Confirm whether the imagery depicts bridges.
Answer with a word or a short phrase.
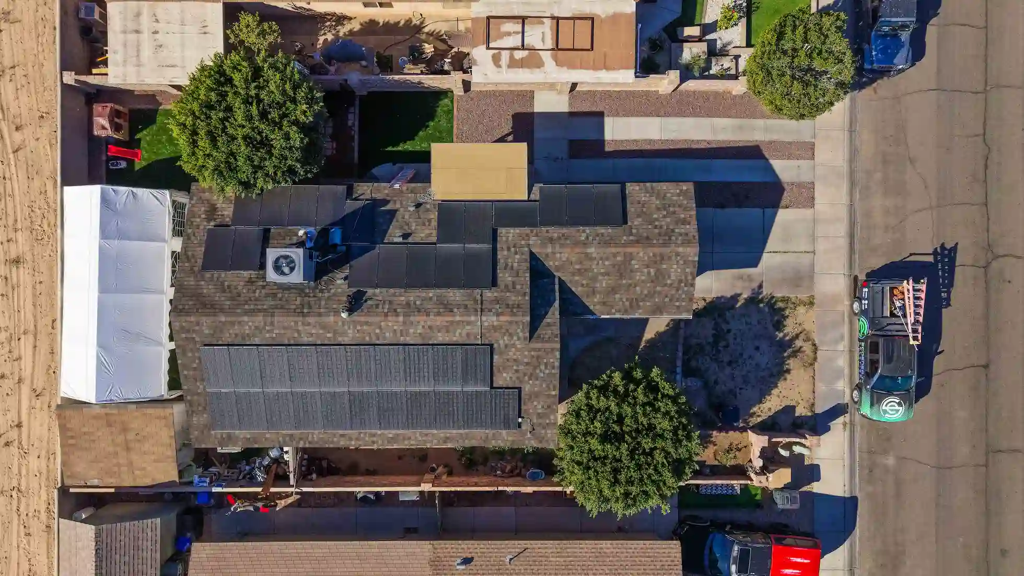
No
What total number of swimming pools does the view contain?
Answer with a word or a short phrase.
0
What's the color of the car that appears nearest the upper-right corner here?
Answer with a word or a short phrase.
blue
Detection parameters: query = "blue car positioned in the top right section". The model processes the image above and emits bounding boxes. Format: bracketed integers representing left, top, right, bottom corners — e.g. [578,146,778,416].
[854,0,916,73]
